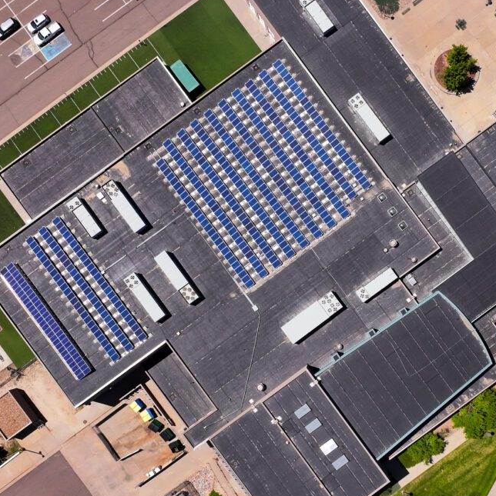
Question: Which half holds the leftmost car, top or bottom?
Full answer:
It is in the top half that the leftmost car appears.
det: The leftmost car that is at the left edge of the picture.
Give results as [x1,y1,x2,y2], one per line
[0,18,22,40]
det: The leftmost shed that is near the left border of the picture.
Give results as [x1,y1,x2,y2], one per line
[0,390,39,441]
